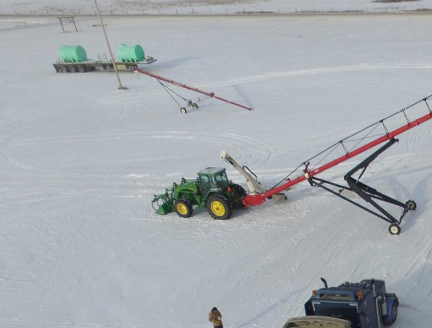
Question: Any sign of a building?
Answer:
No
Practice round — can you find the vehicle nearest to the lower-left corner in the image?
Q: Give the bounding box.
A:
[153,170,241,219]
